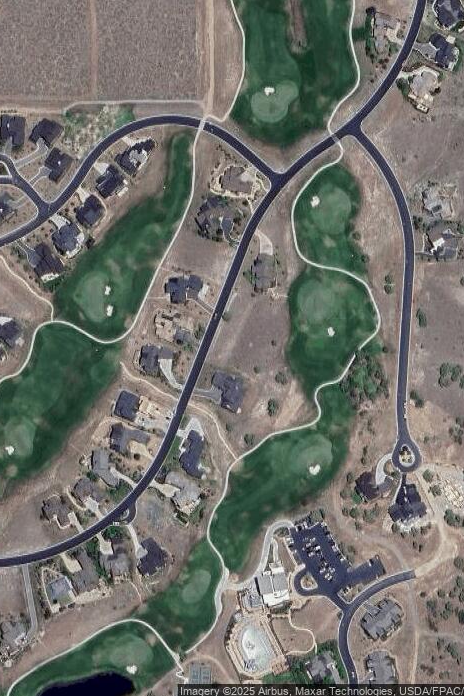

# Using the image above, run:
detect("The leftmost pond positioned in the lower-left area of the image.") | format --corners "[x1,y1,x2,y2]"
[40,672,135,696]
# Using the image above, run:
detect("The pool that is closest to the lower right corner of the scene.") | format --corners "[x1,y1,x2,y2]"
[240,624,280,675]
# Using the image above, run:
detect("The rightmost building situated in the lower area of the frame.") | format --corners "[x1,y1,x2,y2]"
[389,481,431,523]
